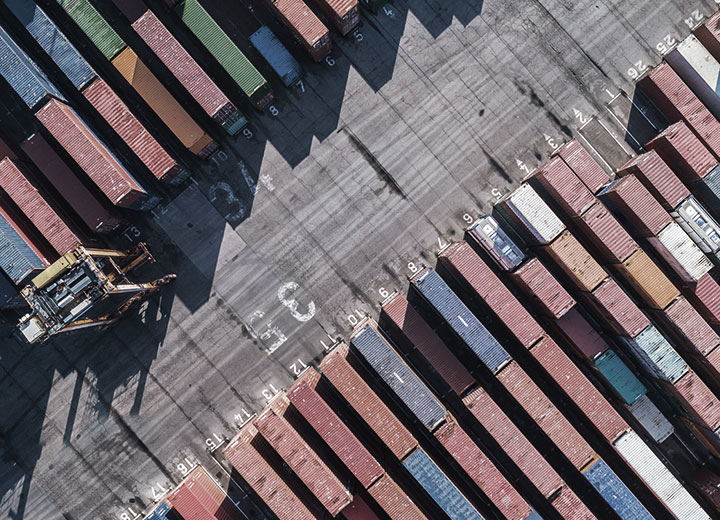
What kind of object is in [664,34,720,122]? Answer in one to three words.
shipping container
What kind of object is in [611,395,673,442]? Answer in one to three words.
shipping container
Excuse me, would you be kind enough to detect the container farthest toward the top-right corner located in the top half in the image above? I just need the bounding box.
[693,12,720,64]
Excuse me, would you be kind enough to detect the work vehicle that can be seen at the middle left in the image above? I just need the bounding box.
[14,230,174,342]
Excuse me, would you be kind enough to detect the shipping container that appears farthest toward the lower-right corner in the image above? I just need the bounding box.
[672,453,720,514]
